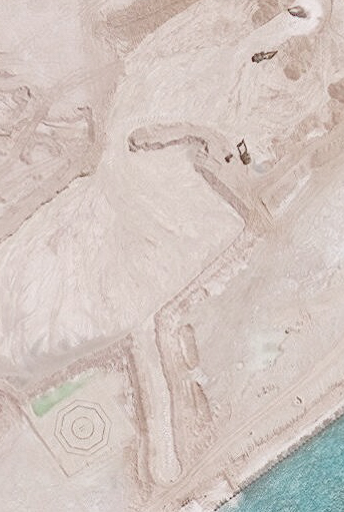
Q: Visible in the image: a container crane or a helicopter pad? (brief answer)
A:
helicopter pad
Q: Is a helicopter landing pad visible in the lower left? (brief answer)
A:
Yes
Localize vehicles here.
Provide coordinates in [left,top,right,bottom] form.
[251,50,276,64]
[225,153,234,161]
[288,7,308,20]
[240,139,251,165]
